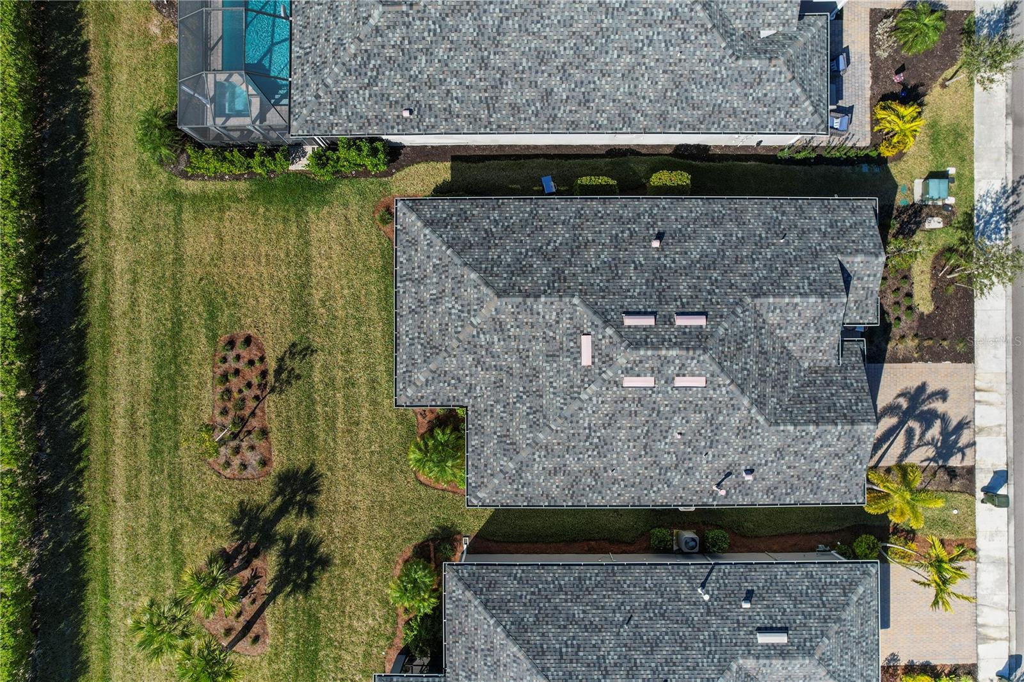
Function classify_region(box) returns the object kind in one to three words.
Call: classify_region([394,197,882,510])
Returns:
house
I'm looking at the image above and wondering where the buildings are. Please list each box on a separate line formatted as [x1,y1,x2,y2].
[372,550,881,682]
[290,0,851,147]
[394,197,882,510]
